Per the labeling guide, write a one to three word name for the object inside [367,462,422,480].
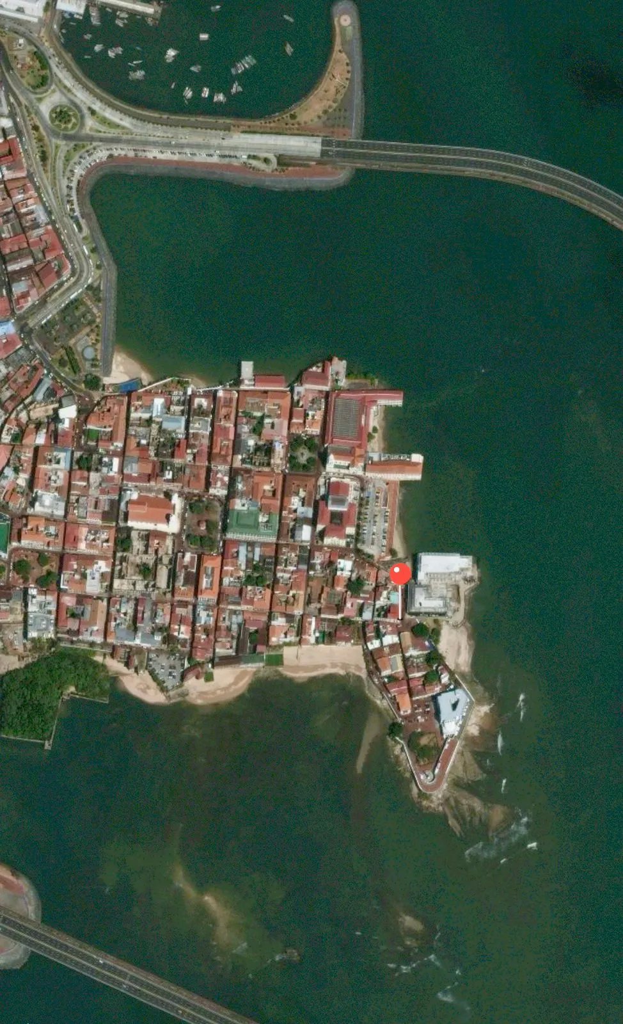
building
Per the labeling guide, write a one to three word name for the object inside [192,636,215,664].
house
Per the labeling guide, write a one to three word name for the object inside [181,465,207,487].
house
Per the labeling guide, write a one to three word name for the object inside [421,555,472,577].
building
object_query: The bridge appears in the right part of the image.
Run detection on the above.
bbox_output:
[320,140,623,229]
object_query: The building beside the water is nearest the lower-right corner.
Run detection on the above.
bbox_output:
[438,689,470,743]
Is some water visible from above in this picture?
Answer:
Yes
